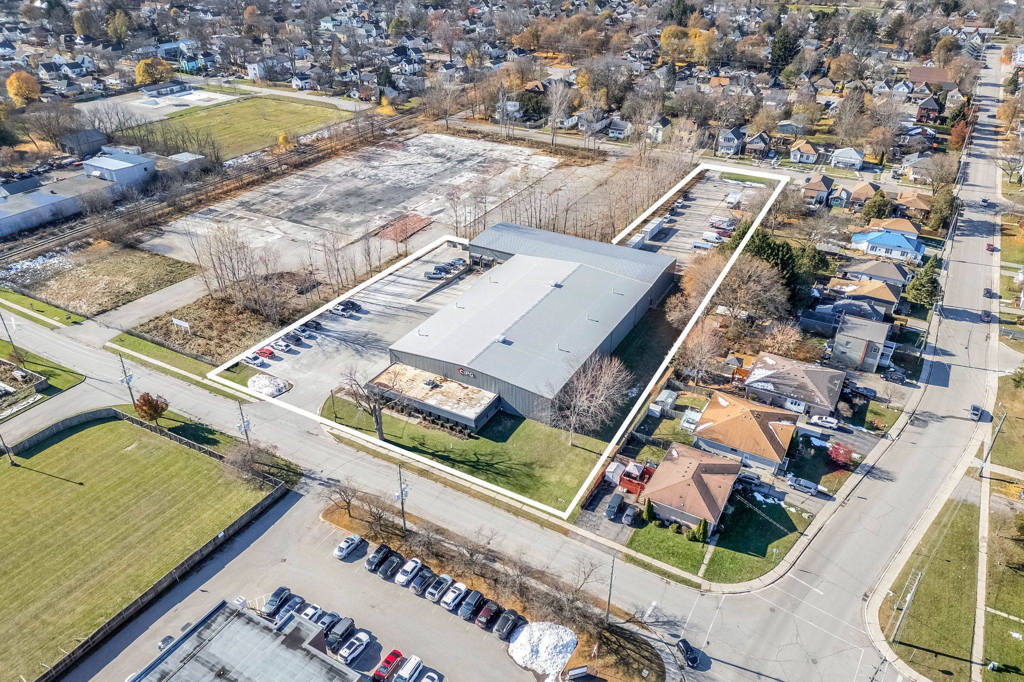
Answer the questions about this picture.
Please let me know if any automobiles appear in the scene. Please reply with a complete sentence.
Yes, the photo shows an automobile.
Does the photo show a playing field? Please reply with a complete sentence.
Yes, the photo shows a playing field.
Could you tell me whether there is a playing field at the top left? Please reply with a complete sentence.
Yes, you'll find a playing field at the top left.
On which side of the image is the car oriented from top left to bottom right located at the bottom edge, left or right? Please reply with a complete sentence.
The car oriented from top left to bottom right located at the bottom edge sits on the right side.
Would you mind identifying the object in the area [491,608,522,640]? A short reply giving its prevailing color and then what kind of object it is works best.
gray car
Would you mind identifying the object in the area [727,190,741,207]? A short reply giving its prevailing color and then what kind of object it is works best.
white vehicle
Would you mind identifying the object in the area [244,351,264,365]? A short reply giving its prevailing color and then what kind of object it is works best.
white car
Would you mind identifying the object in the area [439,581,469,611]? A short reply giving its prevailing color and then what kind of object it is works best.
white car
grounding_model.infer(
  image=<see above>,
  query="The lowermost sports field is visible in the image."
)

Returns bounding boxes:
[0,416,272,682]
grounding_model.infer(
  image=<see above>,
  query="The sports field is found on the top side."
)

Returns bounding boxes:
[122,97,351,159]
